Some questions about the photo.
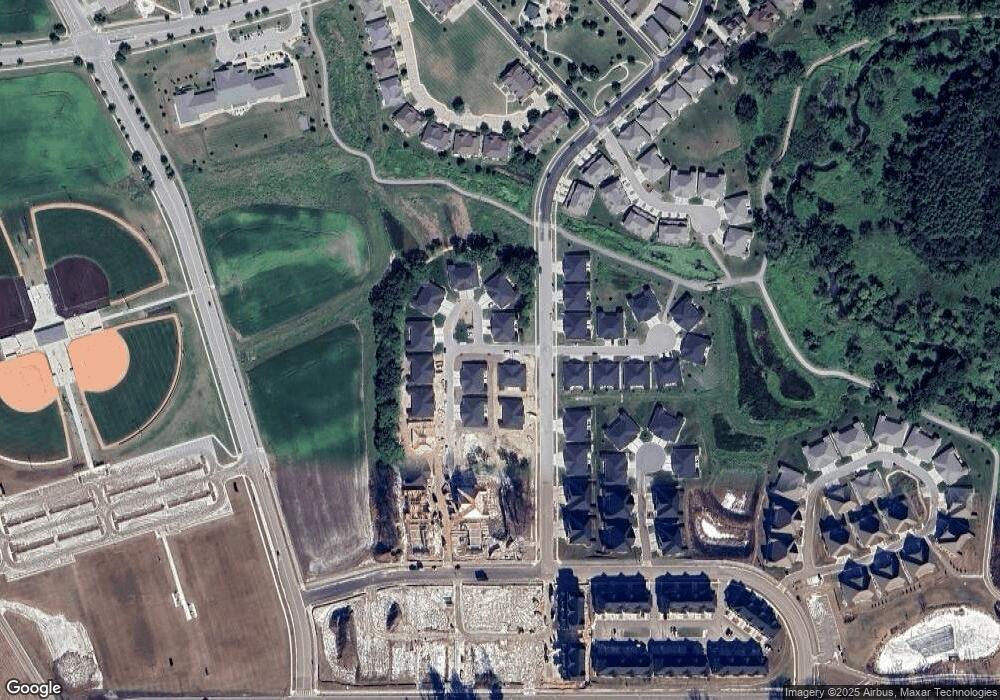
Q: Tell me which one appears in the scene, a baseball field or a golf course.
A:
baseball field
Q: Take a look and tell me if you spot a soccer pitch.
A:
No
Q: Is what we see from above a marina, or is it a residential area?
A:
residential area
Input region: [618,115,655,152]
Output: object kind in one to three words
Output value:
house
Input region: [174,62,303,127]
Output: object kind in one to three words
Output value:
building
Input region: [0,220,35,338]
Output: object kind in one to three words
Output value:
baseball field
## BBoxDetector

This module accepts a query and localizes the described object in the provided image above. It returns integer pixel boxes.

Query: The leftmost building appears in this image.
[33,321,68,347]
